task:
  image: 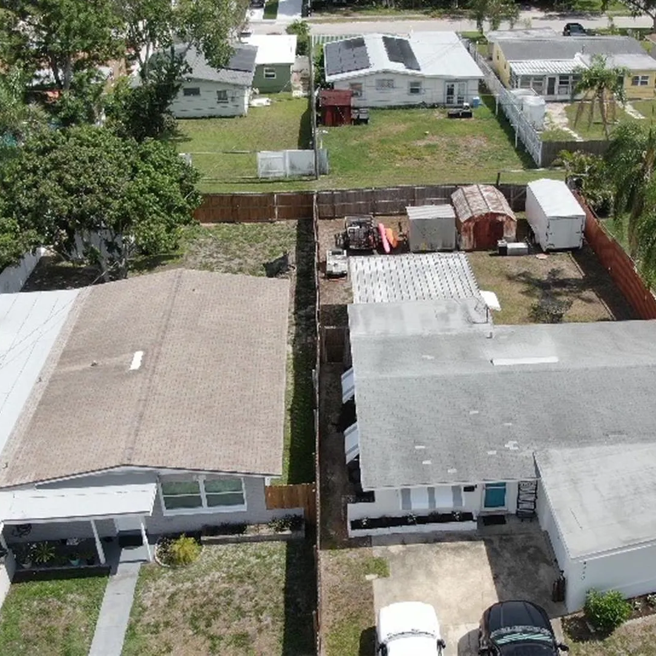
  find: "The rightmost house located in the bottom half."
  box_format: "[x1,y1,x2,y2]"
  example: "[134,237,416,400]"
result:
[348,255,656,614]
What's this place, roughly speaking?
residential area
